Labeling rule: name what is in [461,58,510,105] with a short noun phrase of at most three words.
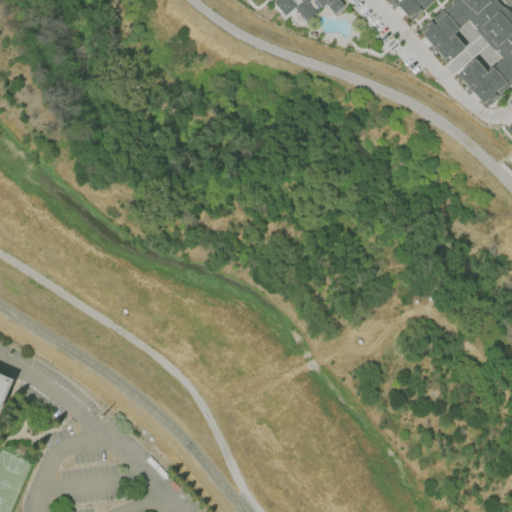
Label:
building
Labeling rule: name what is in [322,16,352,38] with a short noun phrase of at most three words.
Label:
swimming pool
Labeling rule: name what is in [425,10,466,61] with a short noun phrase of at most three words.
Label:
building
